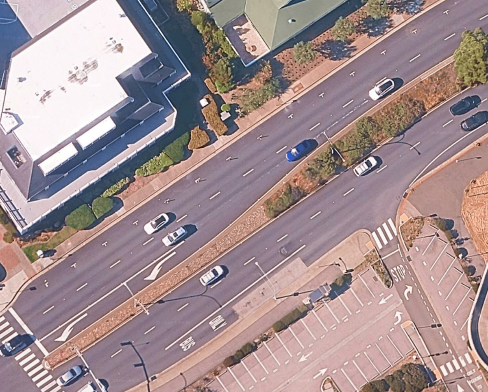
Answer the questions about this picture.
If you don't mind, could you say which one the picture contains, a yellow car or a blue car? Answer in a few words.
blue car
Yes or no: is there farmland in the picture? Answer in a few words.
No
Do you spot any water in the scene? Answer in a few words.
No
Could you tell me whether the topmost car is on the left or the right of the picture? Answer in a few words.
right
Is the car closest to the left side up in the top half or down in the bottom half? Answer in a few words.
bottom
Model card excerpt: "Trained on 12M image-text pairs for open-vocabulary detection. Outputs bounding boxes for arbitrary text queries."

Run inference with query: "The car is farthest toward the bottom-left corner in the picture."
[0,335,27,360]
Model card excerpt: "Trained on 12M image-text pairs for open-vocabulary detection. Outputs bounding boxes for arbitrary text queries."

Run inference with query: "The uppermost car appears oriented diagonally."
[367,76,396,100]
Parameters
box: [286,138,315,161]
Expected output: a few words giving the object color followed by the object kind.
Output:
blue car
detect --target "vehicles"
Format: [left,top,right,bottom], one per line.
[0,335,27,360]
[451,93,481,117]
[77,381,102,392]
[367,76,396,100]
[160,224,188,248]
[462,109,488,132]
[55,365,84,388]
[352,154,380,178]
[197,264,226,287]
[286,138,315,161]
[142,211,172,236]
